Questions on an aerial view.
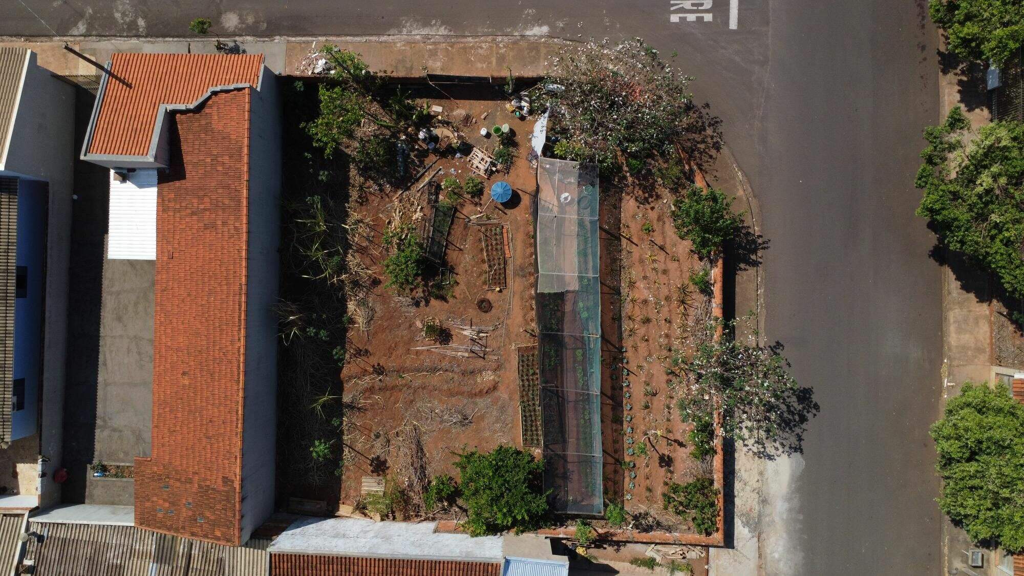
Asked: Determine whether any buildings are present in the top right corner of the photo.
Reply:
No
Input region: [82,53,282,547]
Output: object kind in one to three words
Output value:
house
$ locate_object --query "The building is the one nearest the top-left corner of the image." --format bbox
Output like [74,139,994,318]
[0,44,74,185]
